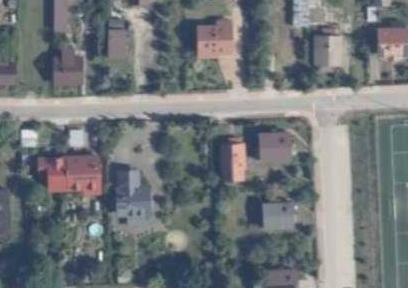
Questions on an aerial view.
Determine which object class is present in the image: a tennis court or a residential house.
residential house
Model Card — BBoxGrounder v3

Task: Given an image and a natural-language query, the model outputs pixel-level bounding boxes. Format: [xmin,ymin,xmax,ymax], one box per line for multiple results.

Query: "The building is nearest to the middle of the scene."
[220,137,246,184]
